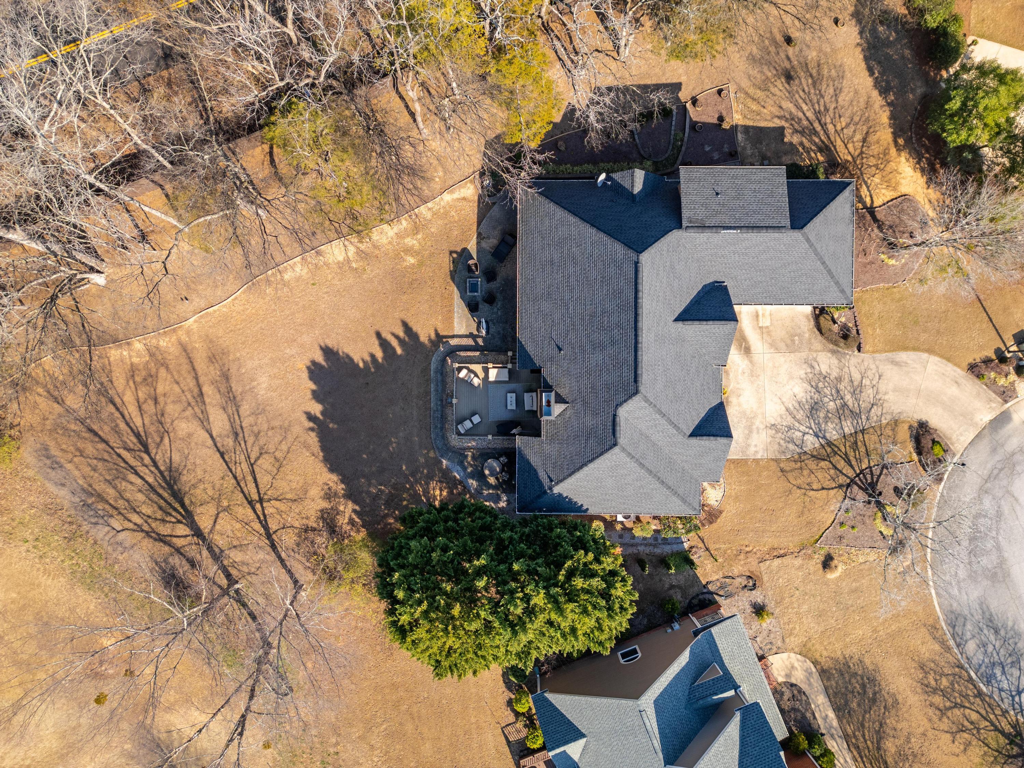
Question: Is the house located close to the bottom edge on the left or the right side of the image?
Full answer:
You can find the house located close to the bottom edge on the right side of the picture.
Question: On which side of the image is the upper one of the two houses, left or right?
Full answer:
The upper one of the two houses is on the right side of the image.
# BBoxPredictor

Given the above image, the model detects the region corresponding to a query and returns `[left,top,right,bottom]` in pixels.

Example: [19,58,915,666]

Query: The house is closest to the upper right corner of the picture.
[515,164,857,516]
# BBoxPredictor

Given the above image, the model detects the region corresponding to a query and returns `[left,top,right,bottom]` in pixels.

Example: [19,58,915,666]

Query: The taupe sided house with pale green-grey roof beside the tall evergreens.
[528,600,832,768]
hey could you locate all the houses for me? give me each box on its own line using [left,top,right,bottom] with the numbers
[515,164,857,516]
[528,600,832,768]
